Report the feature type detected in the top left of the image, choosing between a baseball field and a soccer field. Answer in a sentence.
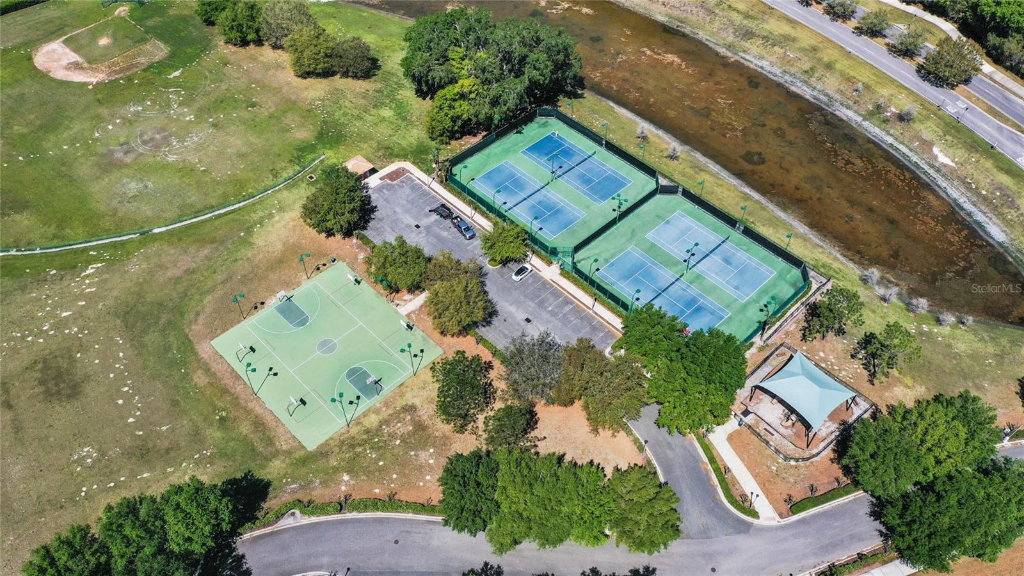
The one visible in the top left of the image is a baseball field.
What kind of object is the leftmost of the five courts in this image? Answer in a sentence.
The leftmost of the five courts is a basketball court.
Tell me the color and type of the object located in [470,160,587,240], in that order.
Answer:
blue tennis court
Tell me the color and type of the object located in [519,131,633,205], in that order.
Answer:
blue tennis court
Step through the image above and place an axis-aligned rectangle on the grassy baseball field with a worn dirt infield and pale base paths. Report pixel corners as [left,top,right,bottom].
[32,8,171,83]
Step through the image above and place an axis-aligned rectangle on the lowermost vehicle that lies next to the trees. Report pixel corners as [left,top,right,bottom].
[511,263,533,280]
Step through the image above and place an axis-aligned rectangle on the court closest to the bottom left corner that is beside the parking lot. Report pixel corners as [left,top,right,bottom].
[212,261,443,450]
